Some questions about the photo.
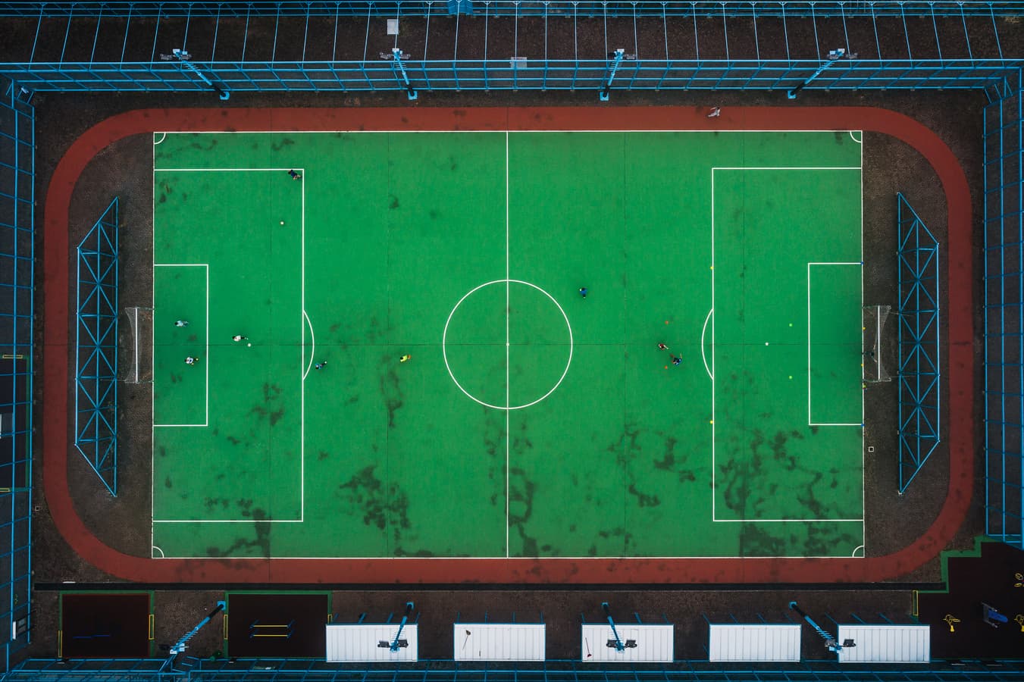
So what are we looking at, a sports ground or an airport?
sports ground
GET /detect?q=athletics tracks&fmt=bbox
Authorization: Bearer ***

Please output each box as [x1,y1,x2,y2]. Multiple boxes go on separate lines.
[44,106,973,583]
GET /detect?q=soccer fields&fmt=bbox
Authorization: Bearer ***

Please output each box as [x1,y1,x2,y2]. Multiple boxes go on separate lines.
[152,130,865,559]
